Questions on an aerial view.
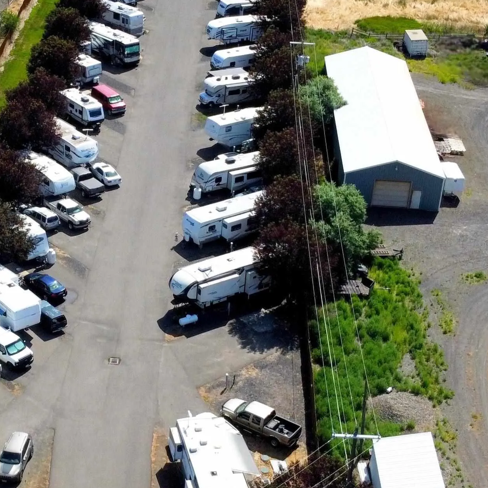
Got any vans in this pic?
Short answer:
Yes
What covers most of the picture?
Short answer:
paved ground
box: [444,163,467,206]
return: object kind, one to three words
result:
trailer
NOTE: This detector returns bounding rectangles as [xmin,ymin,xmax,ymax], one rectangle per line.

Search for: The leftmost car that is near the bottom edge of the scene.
[0,428,34,483]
